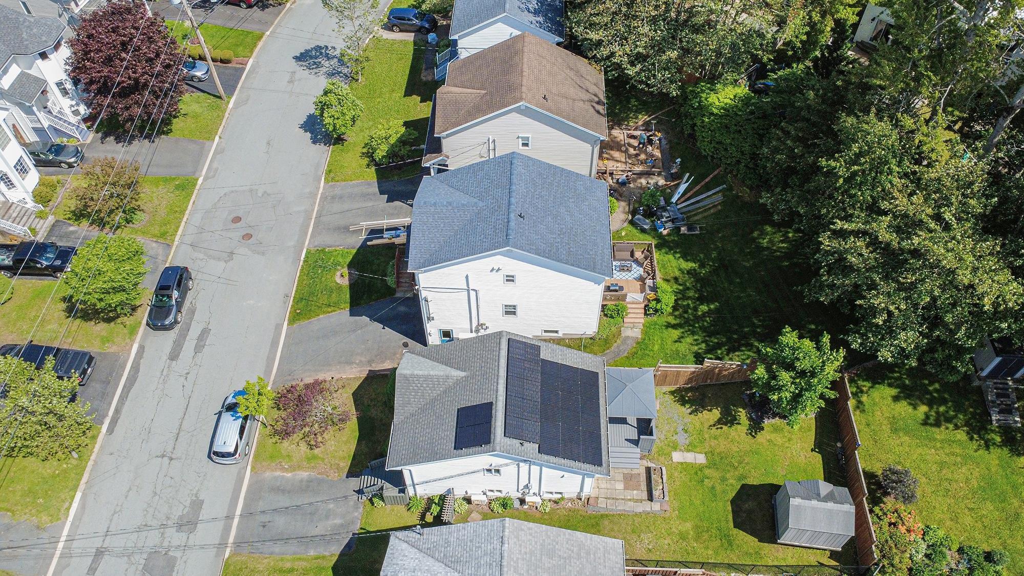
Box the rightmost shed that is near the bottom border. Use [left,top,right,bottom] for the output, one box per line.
[773,485,859,553]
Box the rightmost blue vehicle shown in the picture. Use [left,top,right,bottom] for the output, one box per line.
[384,4,436,31]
